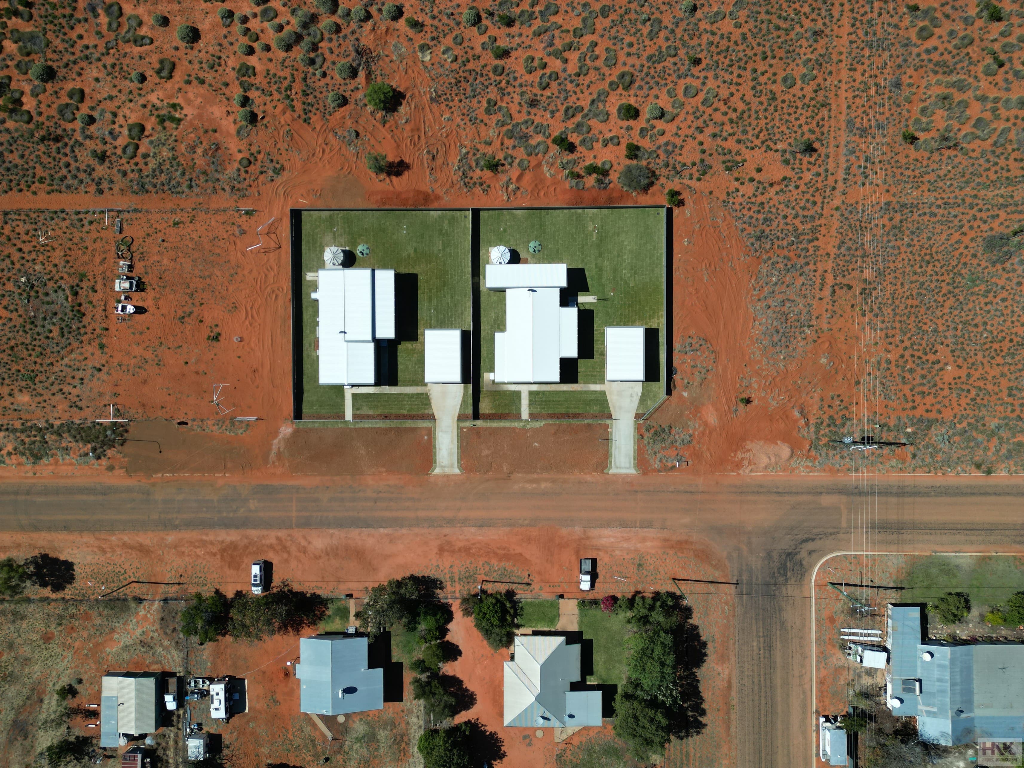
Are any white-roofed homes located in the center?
Yes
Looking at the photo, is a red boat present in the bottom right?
No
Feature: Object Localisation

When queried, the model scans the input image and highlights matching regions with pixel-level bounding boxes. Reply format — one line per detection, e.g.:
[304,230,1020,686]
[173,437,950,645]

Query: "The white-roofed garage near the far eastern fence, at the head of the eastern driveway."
[606,326,645,381]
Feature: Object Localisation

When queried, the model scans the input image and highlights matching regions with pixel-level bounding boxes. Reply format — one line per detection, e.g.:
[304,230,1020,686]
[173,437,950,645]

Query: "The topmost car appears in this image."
[113,278,137,291]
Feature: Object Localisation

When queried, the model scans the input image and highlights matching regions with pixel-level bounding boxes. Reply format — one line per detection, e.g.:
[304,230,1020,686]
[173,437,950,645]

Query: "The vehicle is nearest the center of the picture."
[579,559,593,593]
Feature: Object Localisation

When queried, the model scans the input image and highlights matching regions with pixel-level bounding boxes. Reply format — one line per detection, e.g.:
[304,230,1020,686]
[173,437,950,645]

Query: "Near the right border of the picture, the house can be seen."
[882,604,1024,746]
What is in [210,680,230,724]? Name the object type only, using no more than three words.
camper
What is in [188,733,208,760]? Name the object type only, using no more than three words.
shed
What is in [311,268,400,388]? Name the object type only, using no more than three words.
house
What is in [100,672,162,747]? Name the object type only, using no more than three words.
house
